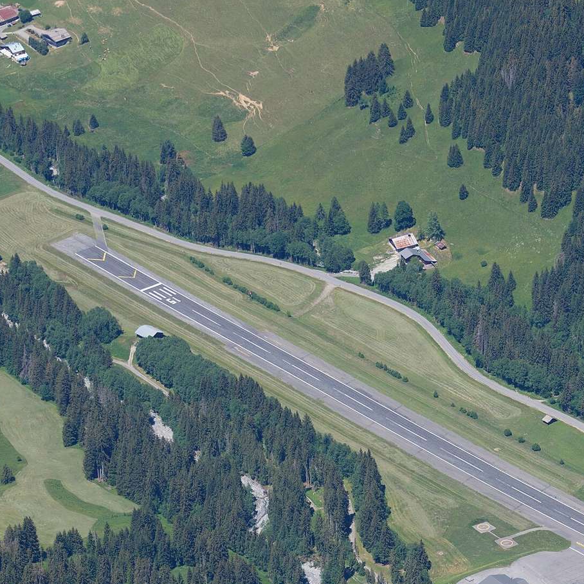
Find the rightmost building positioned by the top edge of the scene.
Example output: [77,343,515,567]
[46,28,72,48]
